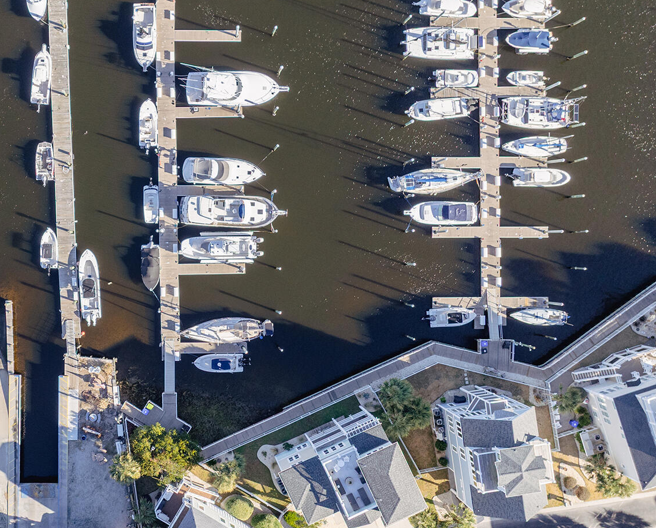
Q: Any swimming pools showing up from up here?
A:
No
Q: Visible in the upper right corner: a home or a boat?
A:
boat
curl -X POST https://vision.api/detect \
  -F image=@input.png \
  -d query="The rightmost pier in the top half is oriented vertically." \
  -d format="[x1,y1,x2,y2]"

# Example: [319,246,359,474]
[429,0,548,329]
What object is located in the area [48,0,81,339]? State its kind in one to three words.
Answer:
pier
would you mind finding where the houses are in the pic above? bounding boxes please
[273,405,427,528]
[444,377,560,522]
[154,478,252,528]
[568,344,656,491]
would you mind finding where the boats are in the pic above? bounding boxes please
[405,95,478,120]
[428,70,478,88]
[178,195,290,226]
[503,71,548,87]
[180,317,274,344]
[409,0,477,19]
[418,306,477,328]
[139,99,158,152]
[133,1,157,72]
[503,168,570,187]
[36,143,55,186]
[78,250,101,325]
[41,227,59,275]
[183,57,290,105]
[500,95,588,128]
[181,238,261,260]
[28,0,47,23]
[399,18,484,61]
[30,42,52,110]
[143,180,159,223]
[502,133,579,155]
[406,200,478,225]
[498,0,558,19]
[393,167,485,197]
[193,352,249,373]
[178,159,269,187]
[507,307,577,328]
